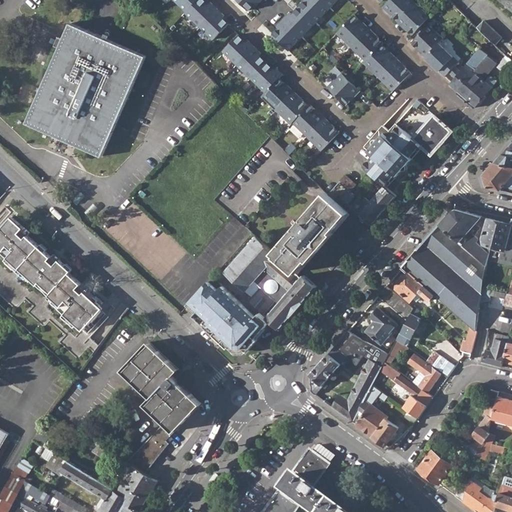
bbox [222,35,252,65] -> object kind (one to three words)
house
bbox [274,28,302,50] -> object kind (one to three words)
house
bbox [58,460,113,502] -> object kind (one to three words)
shed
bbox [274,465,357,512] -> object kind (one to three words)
building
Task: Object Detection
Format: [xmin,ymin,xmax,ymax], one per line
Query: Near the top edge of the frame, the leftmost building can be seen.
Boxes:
[24,25,147,158]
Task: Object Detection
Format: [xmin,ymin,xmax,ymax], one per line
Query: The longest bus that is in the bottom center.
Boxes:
[200,424,222,460]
